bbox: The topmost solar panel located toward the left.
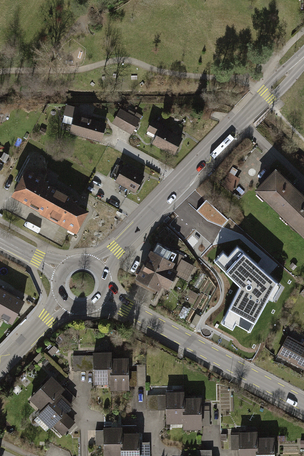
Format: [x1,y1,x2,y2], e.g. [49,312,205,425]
[94,370,108,384]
